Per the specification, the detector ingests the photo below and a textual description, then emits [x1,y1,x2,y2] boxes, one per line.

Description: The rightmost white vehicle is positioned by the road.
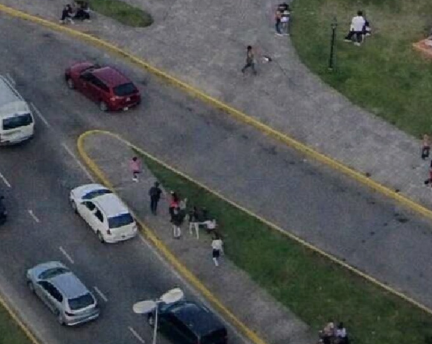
[62,178,135,239]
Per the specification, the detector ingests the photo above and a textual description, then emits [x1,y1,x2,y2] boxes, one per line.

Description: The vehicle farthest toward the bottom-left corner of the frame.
[19,252,101,321]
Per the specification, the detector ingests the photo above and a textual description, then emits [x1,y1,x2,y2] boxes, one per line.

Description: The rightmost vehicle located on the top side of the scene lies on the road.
[56,55,139,109]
